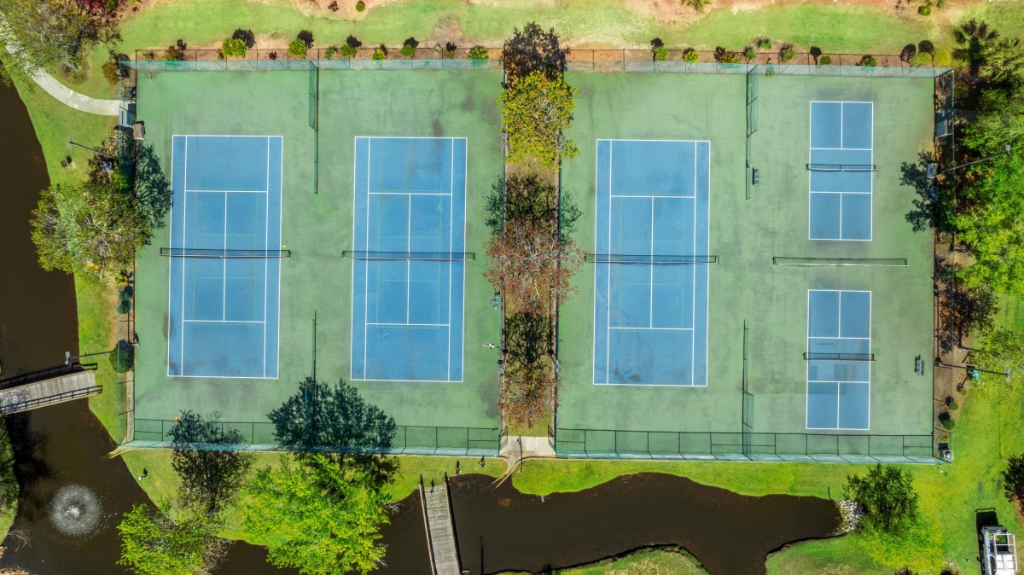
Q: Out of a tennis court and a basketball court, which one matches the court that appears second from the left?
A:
tennis court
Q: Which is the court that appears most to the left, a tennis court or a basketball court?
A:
tennis court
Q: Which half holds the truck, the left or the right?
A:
right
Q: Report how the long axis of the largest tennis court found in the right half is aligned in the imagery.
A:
from top to bottom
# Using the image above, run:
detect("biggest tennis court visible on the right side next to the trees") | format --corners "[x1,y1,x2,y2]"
[593,139,710,387]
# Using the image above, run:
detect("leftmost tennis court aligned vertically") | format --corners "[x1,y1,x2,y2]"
[168,135,283,379]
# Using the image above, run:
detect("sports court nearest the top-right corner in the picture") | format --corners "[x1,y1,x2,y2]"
[809,101,873,240]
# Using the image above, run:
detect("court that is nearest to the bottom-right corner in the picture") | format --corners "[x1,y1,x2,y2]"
[794,290,879,430]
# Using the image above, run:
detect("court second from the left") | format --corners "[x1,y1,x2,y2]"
[351,136,468,382]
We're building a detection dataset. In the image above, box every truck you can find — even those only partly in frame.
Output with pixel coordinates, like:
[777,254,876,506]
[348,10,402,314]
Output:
[984,523,1019,575]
